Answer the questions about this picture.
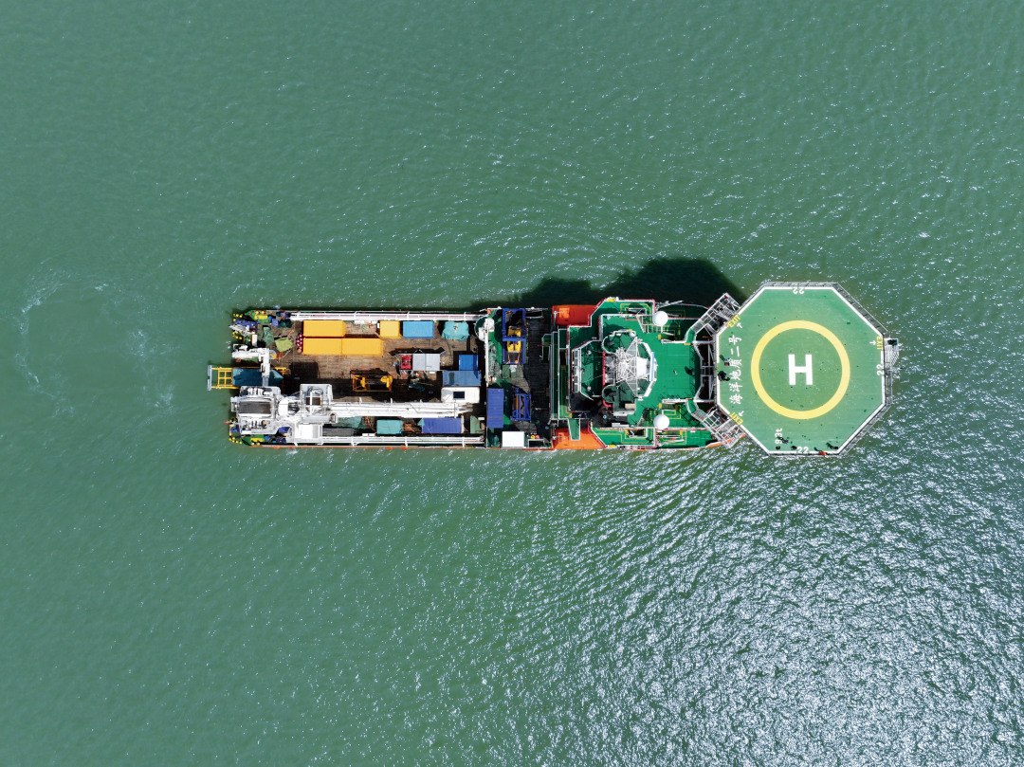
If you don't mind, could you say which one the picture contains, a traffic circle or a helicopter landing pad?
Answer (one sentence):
There is a helicopter landing pad in the scene.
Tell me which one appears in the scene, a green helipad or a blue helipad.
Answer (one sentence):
I can see a green helipad in this picture.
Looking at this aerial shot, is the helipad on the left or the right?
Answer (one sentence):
It is on the right.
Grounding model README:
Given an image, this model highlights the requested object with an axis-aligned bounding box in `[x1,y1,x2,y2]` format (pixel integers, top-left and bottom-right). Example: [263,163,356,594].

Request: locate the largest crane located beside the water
[231,379,473,444]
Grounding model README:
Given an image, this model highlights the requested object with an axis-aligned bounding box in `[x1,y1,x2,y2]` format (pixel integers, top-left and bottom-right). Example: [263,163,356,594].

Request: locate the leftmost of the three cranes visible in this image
[232,345,276,386]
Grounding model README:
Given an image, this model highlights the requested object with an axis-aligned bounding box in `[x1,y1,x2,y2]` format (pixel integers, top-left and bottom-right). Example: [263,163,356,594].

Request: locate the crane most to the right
[473,319,496,387]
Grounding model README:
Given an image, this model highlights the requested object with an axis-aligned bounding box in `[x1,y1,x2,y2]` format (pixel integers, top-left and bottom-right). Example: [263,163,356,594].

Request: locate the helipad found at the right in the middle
[695,279,904,460]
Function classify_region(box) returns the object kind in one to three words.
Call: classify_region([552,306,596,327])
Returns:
boat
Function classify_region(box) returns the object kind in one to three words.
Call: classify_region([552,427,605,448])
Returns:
boat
